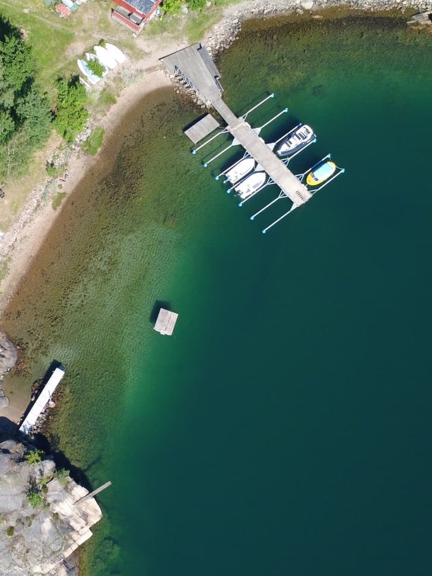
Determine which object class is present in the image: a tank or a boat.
boat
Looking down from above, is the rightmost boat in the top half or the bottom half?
top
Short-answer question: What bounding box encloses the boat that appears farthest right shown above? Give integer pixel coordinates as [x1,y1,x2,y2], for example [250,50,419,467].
[308,159,340,185]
